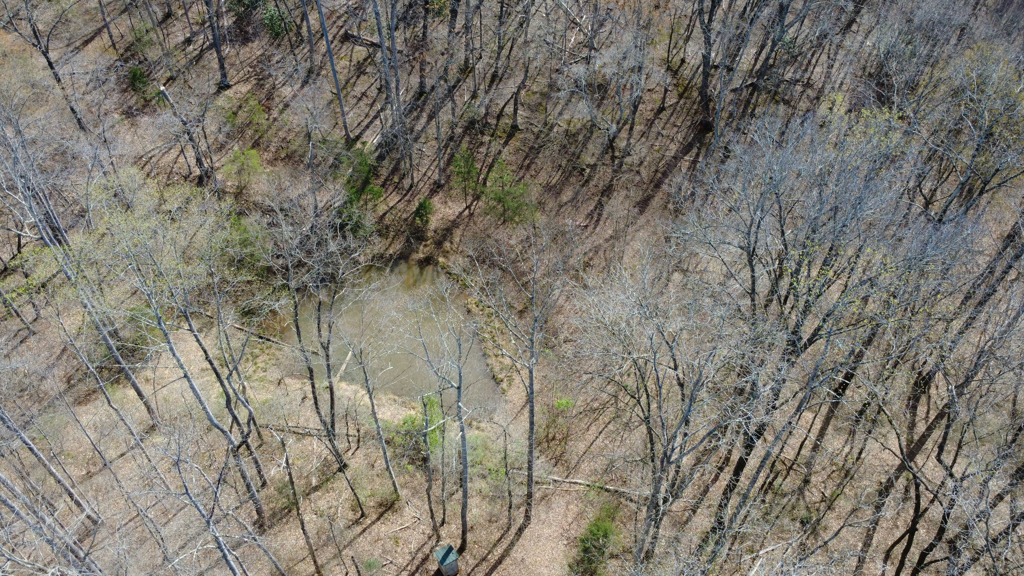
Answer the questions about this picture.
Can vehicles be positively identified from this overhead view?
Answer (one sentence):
No, I find no vehicle anywhere in the image.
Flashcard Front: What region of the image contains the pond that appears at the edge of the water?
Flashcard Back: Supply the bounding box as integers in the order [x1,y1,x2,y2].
[278,259,499,424]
